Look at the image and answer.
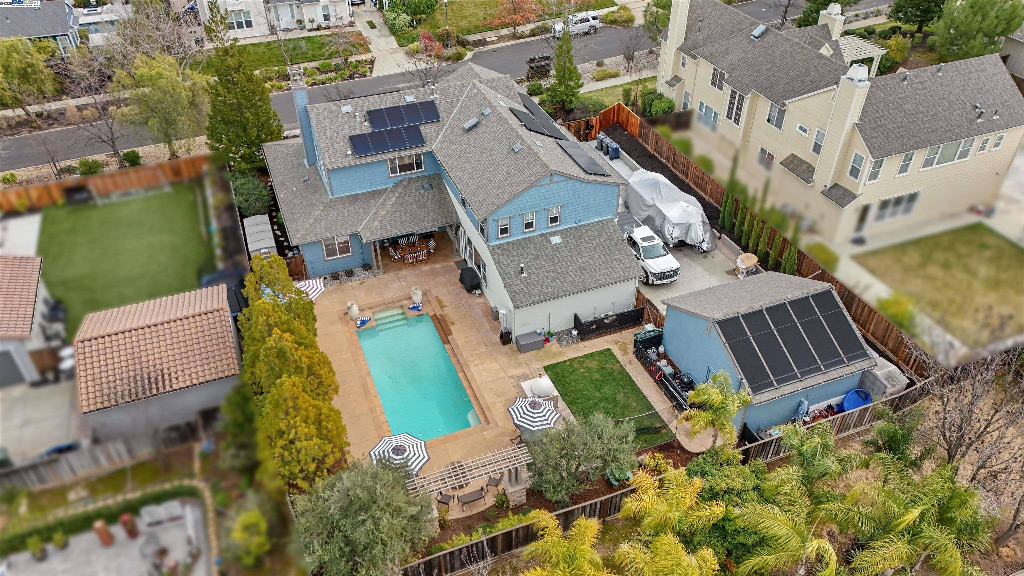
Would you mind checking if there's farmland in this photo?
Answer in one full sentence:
No, farmland can't be seen anywhere here.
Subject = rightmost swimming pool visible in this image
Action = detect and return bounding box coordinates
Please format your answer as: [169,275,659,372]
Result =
[358,306,480,442]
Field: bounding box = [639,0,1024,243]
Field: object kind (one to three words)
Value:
house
